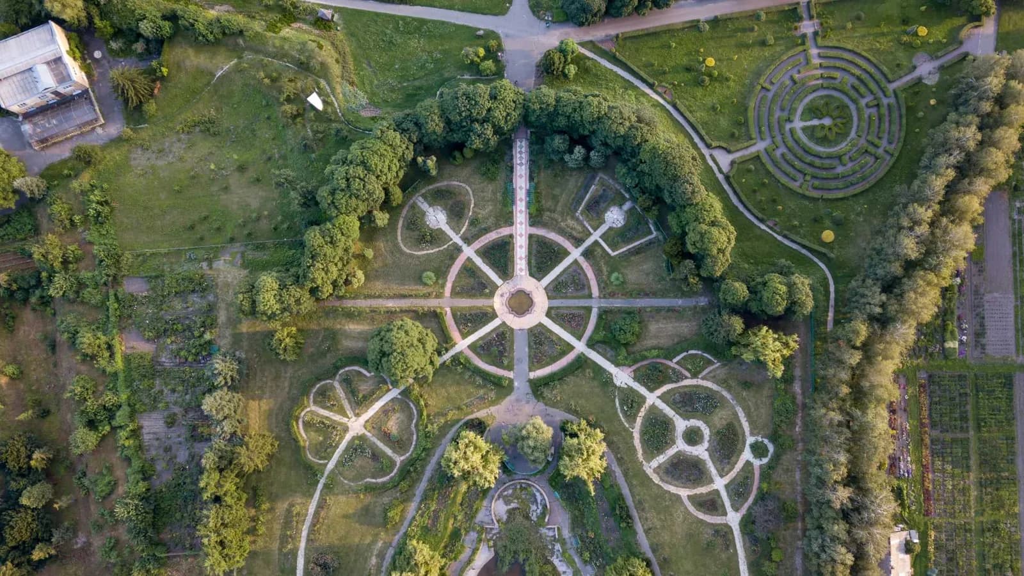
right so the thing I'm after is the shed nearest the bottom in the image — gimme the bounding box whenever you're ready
[884,526,912,576]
